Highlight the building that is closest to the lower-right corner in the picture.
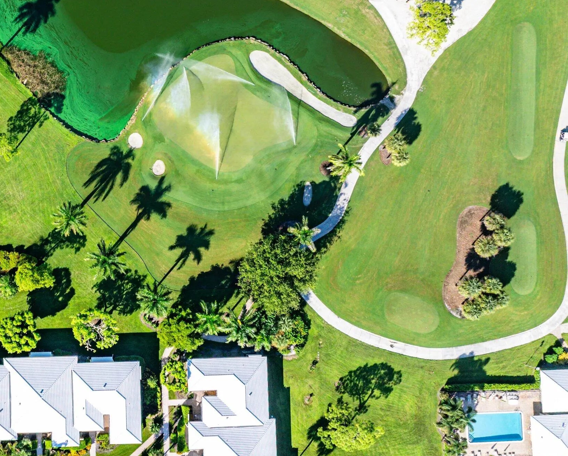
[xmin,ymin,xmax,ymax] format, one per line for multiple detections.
[524,413,568,456]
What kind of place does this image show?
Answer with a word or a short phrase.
golf course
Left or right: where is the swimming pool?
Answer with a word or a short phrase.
right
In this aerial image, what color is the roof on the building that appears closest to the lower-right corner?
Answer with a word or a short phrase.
white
